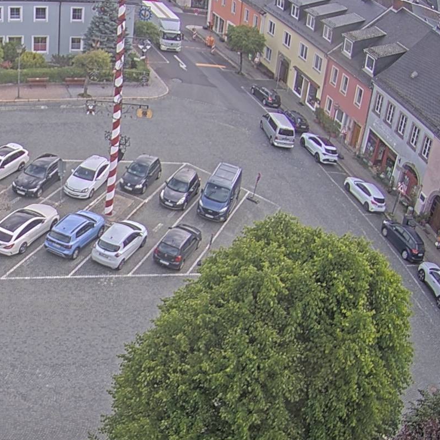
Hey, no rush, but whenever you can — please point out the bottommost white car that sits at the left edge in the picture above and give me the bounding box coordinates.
[0,204,58,258]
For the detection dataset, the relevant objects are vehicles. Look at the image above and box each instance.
[256,113,297,147]
[63,157,109,198]
[45,211,106,259]
[346,179,386,212]
[0,204,58,258]
[152,224,203,271]
[200,168,241,222]
[383,219,427,263]
[120,152,163,193]
[10,150,69,197]
[94,223,147,269]
[161,167,201,210]
[300,133,339,164]
[250,84,284,107]
[143,0,185,47]
[0,142,28,179]
[420,264,440,305]
[280,108,316,135]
